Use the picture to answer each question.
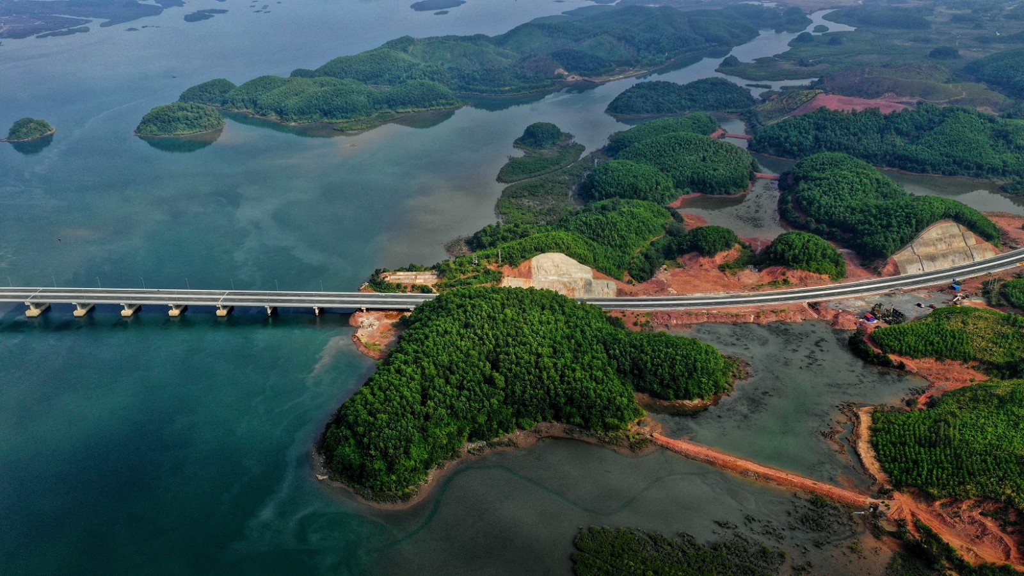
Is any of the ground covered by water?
Yes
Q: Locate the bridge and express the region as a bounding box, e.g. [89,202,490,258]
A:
[0,286,423,321]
